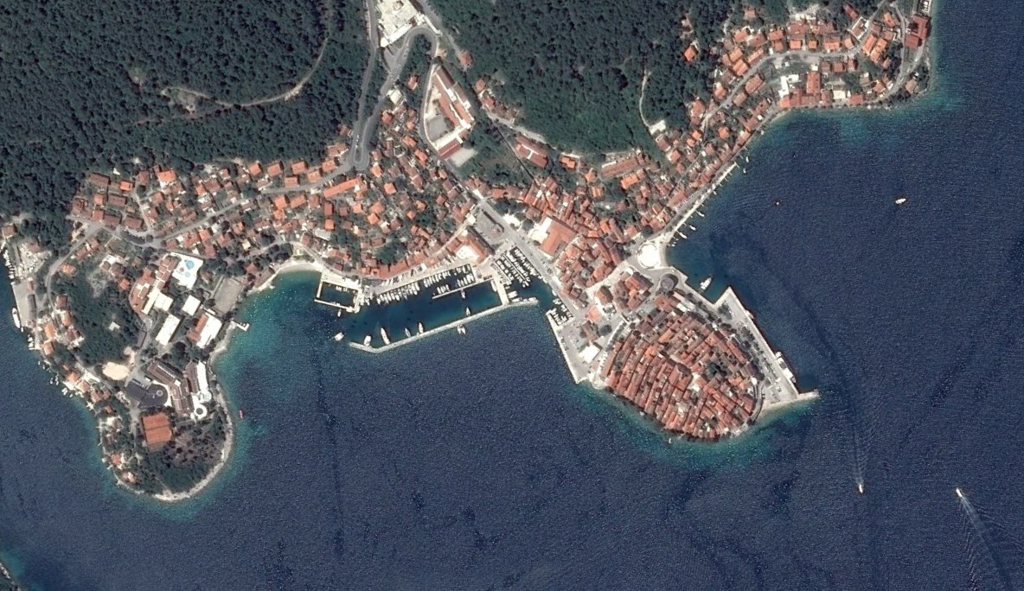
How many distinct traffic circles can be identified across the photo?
0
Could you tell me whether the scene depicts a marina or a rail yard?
marina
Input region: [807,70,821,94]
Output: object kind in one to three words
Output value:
house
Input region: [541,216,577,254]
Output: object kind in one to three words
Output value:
building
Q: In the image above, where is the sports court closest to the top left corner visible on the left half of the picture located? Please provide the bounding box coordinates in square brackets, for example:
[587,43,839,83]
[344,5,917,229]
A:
[213,278,241,312]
